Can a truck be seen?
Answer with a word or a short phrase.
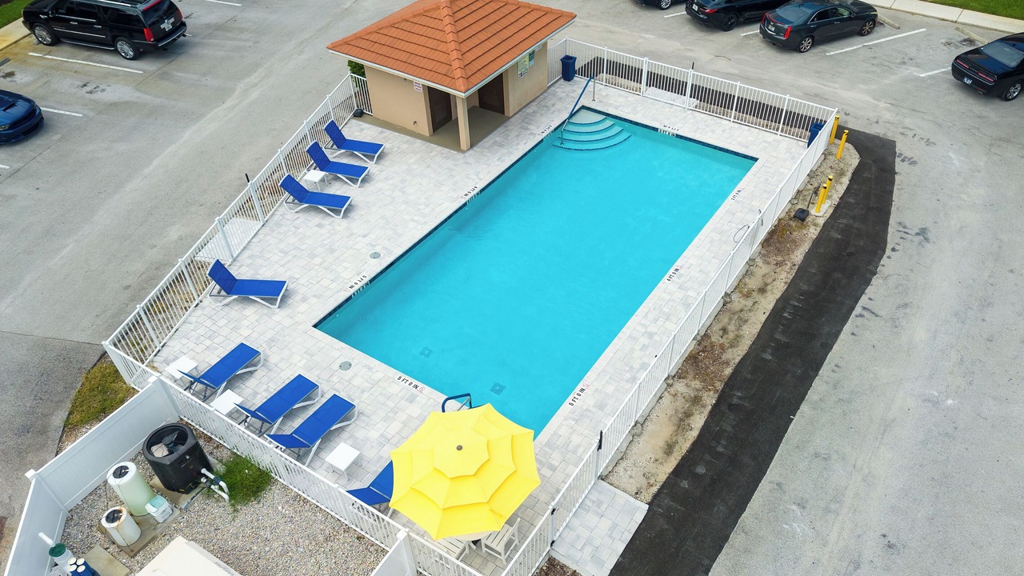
No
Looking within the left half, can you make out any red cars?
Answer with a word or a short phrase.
No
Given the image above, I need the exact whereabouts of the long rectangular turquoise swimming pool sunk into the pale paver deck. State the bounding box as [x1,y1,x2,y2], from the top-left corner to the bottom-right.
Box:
[296,102,768,456]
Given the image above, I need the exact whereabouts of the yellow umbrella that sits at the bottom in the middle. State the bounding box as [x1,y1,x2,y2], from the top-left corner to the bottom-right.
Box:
[387,405,542,543]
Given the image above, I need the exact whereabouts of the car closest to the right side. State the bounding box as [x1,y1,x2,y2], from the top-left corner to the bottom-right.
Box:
[944,26,1024,102]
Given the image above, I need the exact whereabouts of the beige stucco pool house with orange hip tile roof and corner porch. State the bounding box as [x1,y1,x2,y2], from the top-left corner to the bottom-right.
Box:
[323,0,580,152]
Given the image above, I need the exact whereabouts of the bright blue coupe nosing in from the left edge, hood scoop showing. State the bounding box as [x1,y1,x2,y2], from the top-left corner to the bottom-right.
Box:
[0,87,47,145]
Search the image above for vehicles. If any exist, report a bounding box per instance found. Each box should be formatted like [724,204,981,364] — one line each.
[0,87,47,145]
[754,0,889,53]
[944,26,1024,102]
[635,0,675,11]
[678,0,787,33]
[10,0,193,61]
